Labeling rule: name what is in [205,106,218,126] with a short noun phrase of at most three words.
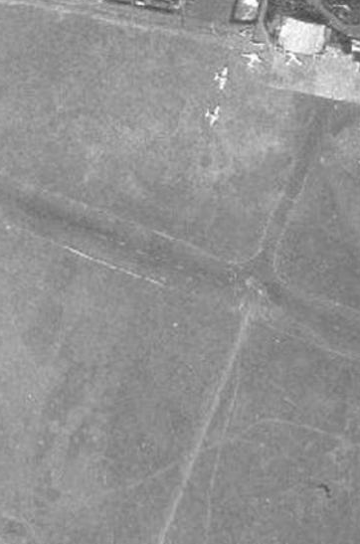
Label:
airplane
